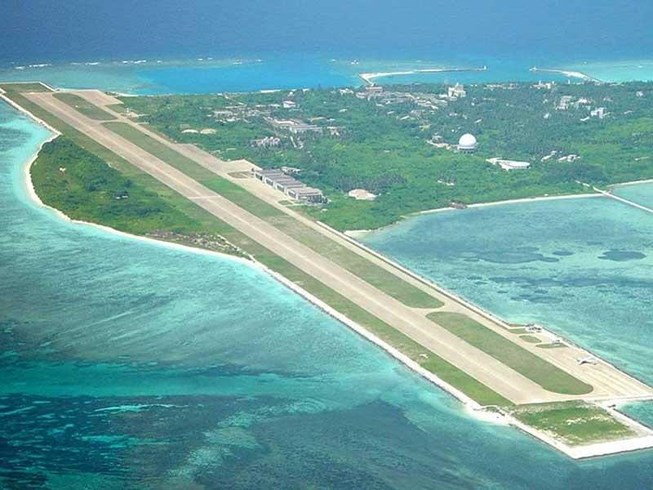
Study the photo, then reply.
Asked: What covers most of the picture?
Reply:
water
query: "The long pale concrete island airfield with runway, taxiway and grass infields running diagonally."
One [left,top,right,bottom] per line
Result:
[20,89,653,444]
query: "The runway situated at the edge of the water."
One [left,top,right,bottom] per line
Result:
[20,91,562,405]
